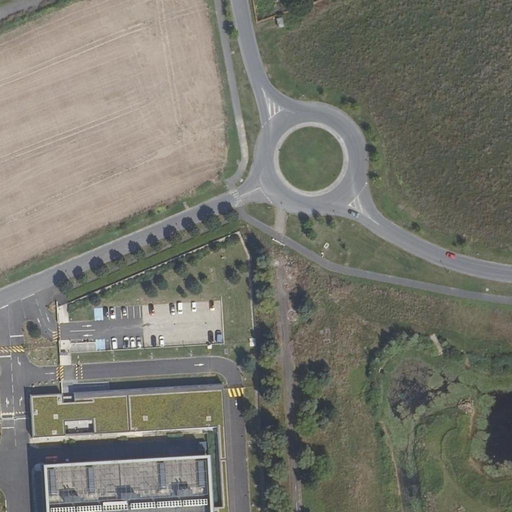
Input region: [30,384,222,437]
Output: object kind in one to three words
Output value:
building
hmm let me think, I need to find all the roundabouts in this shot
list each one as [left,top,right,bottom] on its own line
[251,94,368,216]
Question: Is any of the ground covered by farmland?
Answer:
Yes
